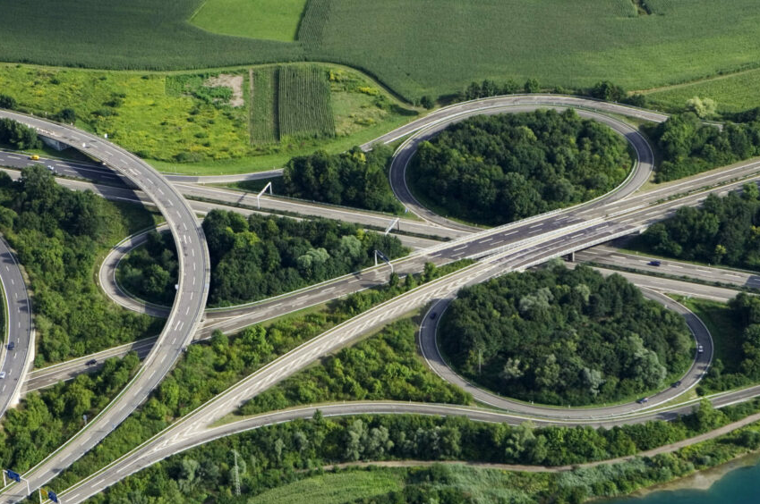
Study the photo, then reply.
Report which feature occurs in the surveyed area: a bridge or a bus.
bridge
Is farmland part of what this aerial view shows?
Yes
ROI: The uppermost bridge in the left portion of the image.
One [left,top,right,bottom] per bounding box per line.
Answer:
[60,129,210,371]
